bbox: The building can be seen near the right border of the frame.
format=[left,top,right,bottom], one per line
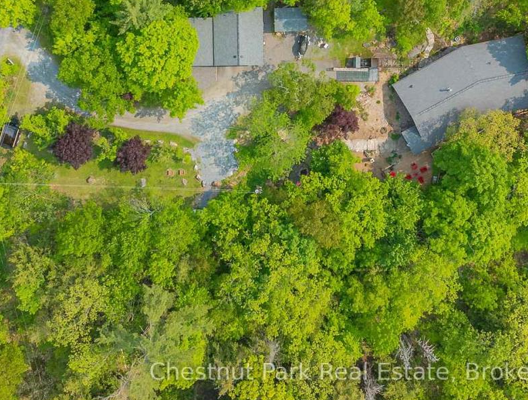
[393,34,528,154]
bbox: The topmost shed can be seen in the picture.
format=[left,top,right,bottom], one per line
[275,7,307,32]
